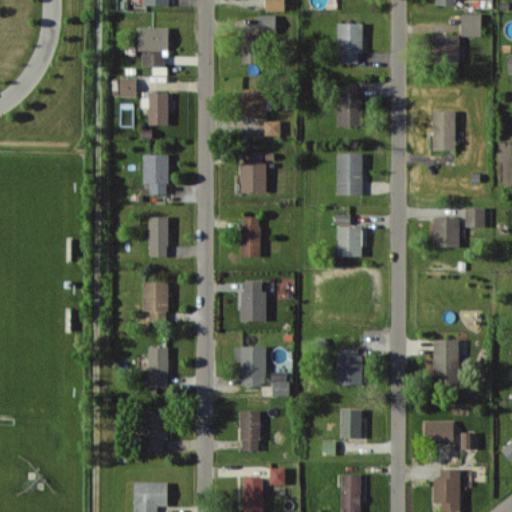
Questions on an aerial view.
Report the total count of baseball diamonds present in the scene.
0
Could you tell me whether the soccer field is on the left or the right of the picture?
left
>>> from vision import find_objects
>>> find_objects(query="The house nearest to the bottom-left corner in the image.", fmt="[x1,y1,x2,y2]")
[133,482,168,512]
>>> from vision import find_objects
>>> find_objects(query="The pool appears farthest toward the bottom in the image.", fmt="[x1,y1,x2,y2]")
[272,348,289,364]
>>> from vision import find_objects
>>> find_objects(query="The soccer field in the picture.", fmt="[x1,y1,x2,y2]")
[0,154,82,512]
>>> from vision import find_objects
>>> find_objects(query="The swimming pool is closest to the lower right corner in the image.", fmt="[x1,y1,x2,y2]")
[444,311,459,325]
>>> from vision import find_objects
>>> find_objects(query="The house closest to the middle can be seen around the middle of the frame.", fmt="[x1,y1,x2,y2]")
[240,216,262,258]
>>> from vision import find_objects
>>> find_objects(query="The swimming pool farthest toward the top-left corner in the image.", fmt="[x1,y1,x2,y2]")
[120,103,134,128]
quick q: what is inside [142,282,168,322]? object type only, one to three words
house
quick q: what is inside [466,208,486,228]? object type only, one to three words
building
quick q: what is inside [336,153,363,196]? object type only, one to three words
house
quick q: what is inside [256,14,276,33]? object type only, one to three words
building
